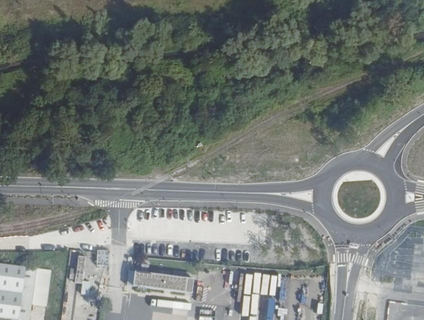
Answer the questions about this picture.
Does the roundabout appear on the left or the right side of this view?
right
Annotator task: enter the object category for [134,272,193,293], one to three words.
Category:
building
